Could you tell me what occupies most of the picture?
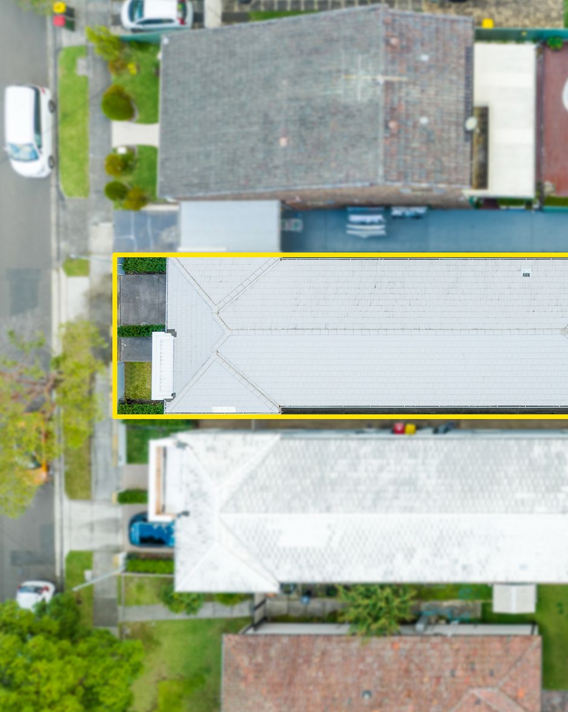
buildings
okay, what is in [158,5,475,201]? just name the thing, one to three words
house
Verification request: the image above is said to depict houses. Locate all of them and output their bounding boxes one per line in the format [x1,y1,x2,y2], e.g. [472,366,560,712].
[149,427,568,594]
[220,594,543,712]
[158,5,475,201]
[153,255,568,417]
